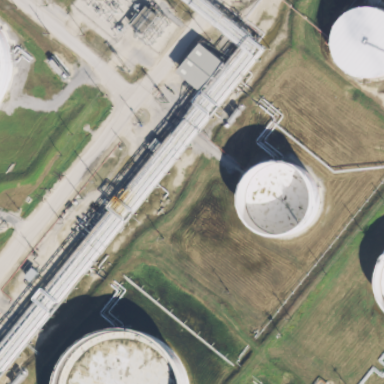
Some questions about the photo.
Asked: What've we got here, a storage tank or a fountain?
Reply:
storage tank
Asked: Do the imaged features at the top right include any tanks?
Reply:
Yes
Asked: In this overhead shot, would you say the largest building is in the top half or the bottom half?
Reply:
top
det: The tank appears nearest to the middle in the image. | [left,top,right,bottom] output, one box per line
[234,158,324,240]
